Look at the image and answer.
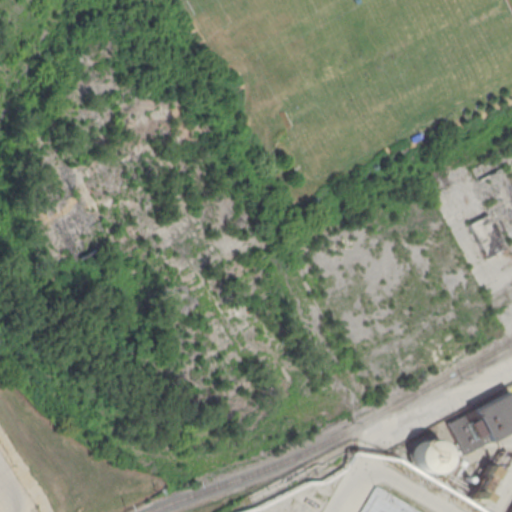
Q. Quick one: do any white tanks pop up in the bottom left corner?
No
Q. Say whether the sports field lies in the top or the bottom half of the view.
top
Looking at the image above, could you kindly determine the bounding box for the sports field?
[185,0,512,204]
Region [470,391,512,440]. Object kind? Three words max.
building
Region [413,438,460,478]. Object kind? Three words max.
storage tank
